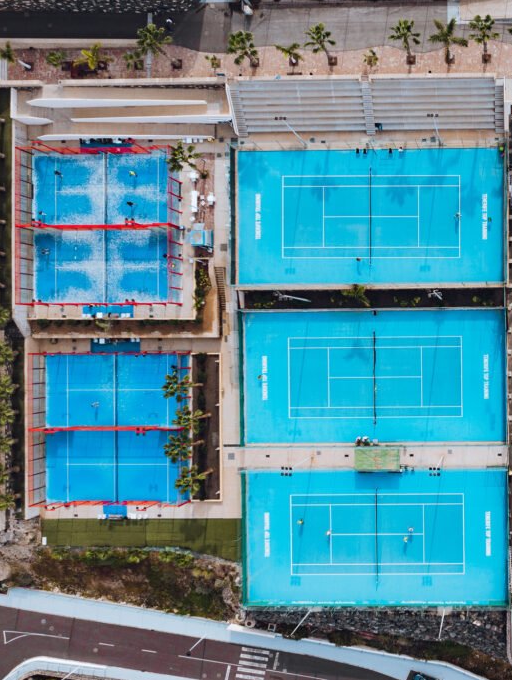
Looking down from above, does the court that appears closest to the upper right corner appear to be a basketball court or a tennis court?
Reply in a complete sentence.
The court that appears closest to the upper right corner can be classified as a tennis court.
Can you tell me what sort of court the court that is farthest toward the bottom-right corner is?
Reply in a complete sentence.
What you see as the court that is farthest toward the bottom-right corner is a tennis court.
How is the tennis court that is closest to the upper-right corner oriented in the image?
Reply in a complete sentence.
I'd say the tennis court that is closest to the upper-right corner is aligned horizontally in the picture.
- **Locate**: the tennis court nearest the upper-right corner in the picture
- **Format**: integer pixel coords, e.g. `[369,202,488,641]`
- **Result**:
[237,149,504,286]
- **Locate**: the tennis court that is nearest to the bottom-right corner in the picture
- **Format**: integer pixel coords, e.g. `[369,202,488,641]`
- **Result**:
[245,470,507,605]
